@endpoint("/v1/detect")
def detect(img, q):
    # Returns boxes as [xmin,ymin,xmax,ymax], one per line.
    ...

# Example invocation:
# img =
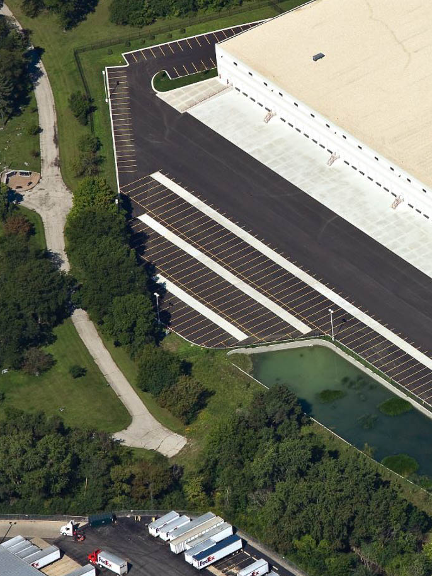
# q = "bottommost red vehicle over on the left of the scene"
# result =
[87,552,107,570]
